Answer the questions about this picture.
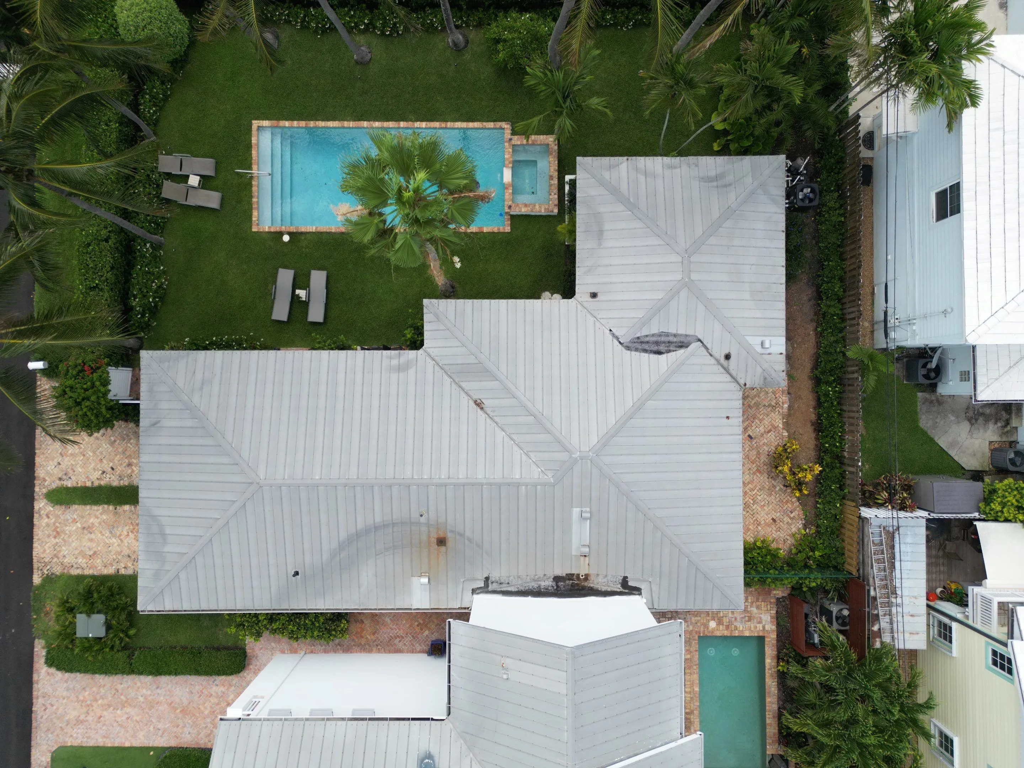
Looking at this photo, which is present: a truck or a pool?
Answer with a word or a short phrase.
pool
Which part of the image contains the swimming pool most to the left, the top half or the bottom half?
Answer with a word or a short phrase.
top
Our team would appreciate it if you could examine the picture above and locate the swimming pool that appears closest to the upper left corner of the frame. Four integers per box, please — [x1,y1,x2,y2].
[251,120,510,232]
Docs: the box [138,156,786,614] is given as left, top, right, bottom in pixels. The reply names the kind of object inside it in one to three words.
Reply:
house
